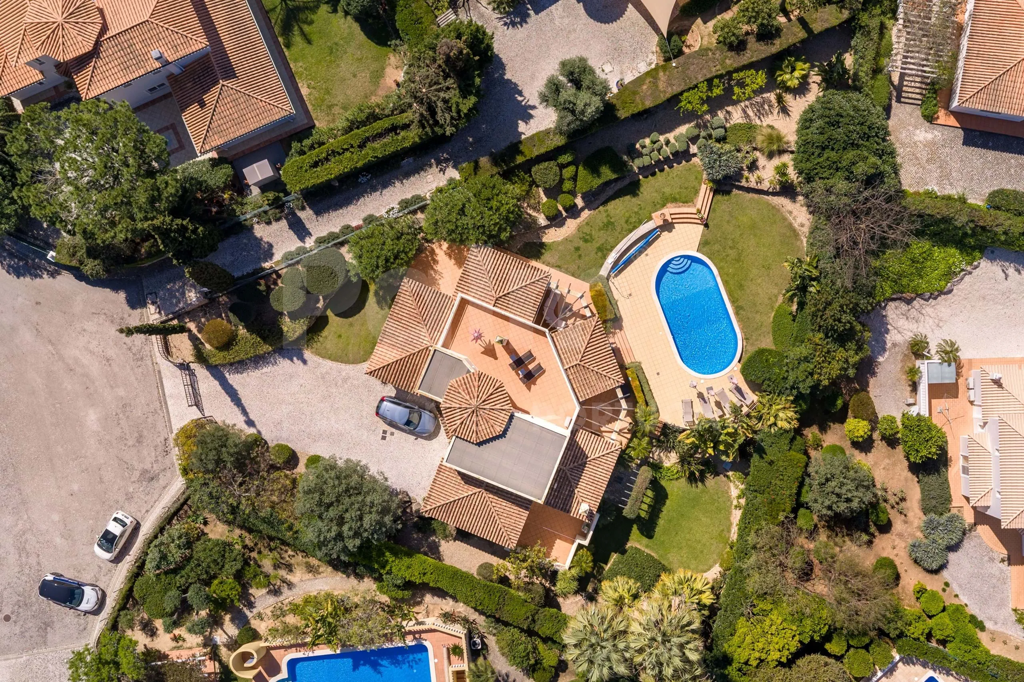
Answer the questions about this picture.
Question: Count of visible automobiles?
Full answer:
Altogether the scene contains 3 automobiles.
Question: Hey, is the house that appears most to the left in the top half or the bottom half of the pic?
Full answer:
You can find the house that appears most to the left in the top half.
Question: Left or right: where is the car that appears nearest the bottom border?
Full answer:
You can find the car that appears nearest the bottom border on the left side of the picture.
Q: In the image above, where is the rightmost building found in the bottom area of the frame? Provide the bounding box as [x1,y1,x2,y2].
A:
[953,365,1024,530]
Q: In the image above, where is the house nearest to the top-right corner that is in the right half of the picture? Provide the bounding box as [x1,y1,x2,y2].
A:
[947,0,1024,123]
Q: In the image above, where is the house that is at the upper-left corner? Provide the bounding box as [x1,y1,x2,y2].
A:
[0,0,302,157]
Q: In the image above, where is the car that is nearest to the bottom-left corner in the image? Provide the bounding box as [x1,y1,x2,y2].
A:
[46,575,102,607]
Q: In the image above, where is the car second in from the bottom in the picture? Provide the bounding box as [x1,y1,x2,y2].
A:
[93,511,134,563]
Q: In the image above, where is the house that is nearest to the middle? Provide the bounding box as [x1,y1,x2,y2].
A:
[364,243,625,570]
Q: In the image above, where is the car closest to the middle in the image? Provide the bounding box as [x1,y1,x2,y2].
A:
[376,397,437,432]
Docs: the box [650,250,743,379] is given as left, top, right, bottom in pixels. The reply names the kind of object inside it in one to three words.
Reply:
swimming pool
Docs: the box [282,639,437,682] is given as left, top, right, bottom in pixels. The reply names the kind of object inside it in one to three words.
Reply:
swimming pool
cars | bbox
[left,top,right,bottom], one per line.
[376,397,437,432]
[46,575,102,607]
[93,511,134,563]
